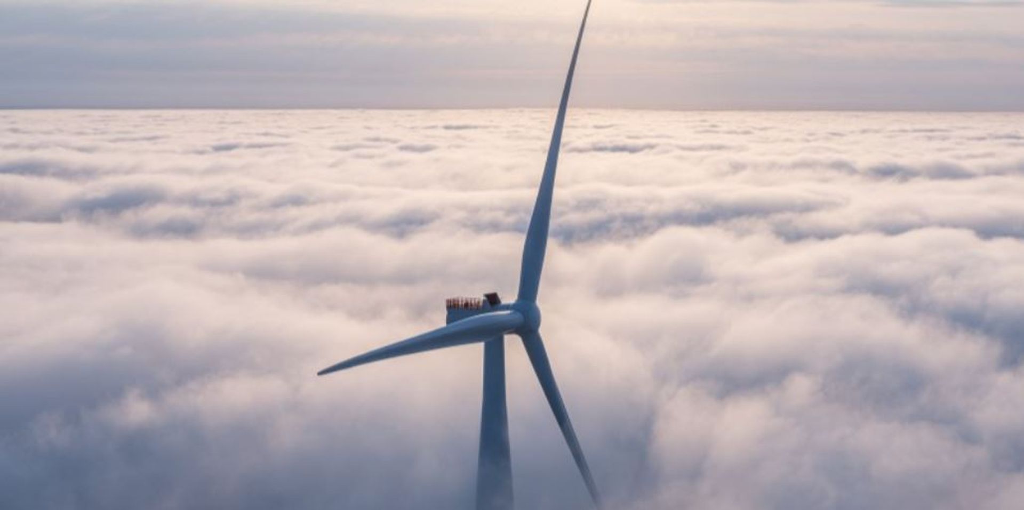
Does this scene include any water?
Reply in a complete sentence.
Yes, some water is visible.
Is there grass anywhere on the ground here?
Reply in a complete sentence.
No, grass can't be seen anywhere here.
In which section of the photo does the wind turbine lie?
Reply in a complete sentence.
The wind turbine sits in the center section of the image.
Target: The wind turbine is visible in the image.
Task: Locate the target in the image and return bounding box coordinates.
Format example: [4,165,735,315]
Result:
[319,0,598,510]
